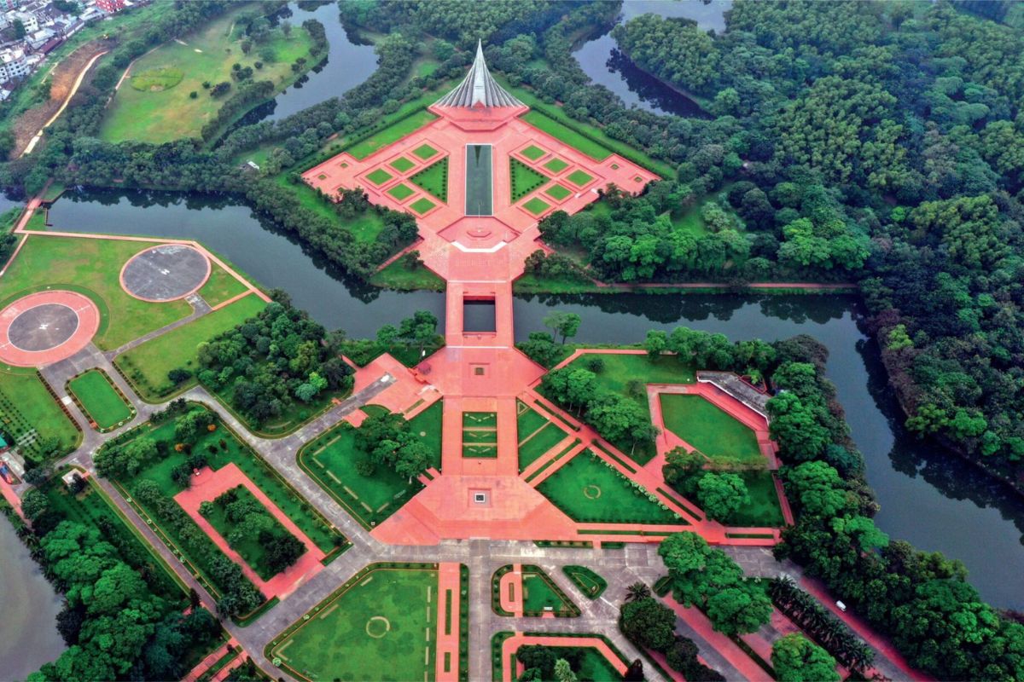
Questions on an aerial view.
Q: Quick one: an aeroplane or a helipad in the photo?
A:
helipad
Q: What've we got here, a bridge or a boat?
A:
bridge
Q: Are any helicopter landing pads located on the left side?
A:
Yes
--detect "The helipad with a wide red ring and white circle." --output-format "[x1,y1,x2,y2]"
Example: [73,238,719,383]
[0,289,100,367]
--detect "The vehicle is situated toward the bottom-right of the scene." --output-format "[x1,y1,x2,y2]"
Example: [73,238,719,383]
[834,597,849,613]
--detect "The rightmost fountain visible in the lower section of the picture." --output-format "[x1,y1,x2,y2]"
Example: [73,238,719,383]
[468,489,492,507]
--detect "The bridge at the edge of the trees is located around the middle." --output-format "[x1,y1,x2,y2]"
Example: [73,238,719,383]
[446,281,514,346]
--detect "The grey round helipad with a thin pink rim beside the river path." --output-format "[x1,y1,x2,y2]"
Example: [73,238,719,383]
[119,242,210,302]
